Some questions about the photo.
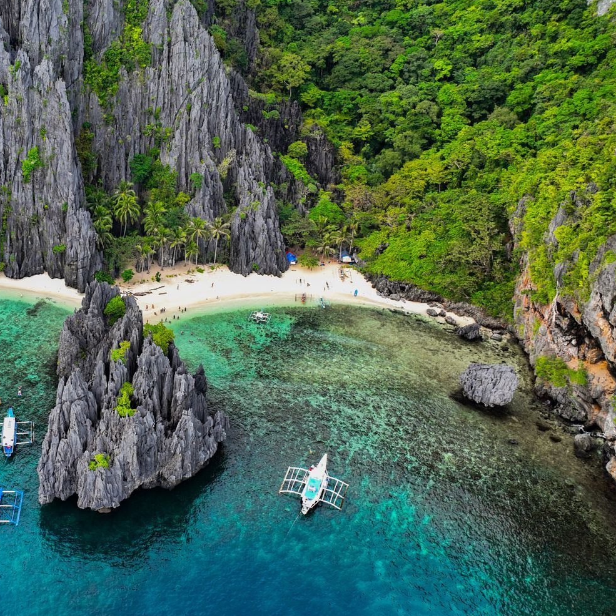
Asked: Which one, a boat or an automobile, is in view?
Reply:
boat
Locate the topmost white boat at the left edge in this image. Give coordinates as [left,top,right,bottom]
[0,406,34,460]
